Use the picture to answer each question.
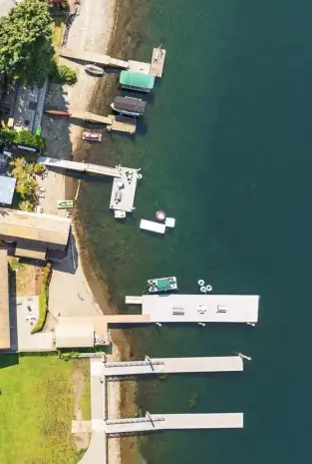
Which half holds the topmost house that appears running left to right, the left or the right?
left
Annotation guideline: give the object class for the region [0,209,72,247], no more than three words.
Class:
house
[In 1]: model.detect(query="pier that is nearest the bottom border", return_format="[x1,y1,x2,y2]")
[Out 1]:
[104,412,243,432]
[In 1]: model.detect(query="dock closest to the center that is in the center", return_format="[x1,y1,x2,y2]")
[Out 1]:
[110,165,141,212]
